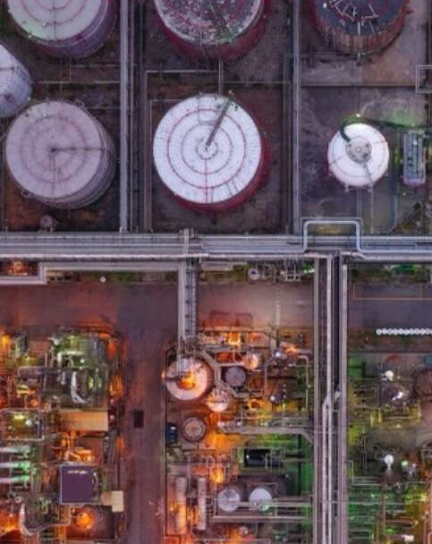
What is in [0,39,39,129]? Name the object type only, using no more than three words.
storage tank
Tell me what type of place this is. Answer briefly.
industrial area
